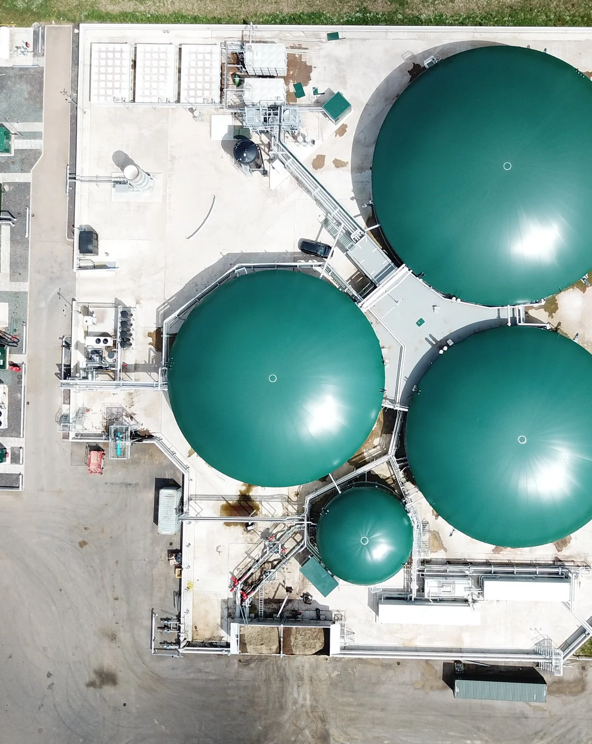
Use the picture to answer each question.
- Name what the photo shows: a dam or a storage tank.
storage tank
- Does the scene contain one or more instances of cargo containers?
Yes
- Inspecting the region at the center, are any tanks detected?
Yes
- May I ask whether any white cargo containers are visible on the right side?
Yes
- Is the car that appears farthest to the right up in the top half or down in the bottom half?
top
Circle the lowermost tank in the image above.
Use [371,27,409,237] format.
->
[314,482,413,596]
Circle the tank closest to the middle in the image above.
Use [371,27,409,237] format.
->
[167,269,390,488]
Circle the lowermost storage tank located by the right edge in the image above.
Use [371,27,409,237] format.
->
[404,320,592,548]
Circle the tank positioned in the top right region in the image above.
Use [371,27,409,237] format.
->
[369,46,592,308]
